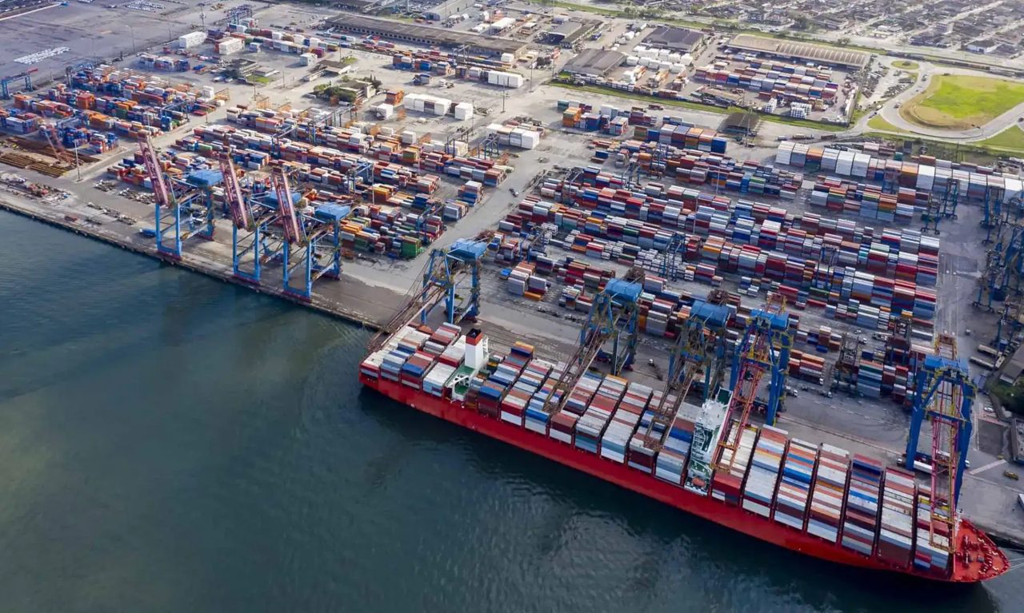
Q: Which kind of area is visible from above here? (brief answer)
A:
port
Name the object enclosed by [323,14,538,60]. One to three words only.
building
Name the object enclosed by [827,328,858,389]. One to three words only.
container crane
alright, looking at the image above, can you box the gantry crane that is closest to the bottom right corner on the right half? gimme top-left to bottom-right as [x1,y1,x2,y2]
[901,350,977,557]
